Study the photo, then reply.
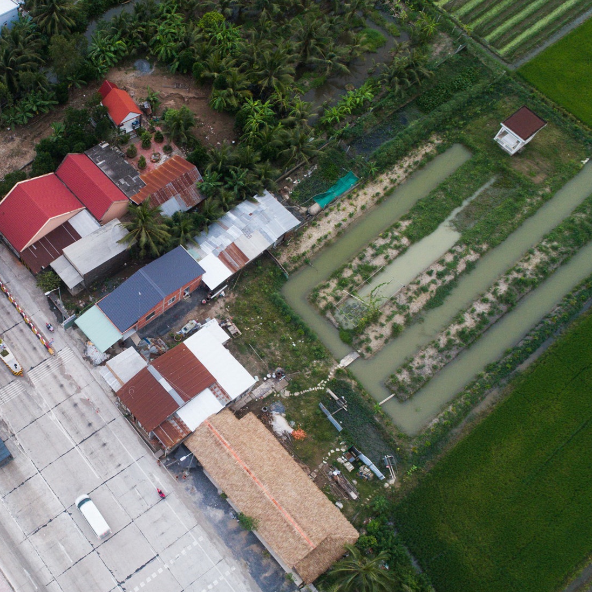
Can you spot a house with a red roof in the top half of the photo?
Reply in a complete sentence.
Yes, the scene does show a house with a red roof in the top half of the photo.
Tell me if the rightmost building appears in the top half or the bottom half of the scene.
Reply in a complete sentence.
Seen from above, the rightmost building lies in the top half of the view.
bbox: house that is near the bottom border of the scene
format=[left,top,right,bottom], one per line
[177,409,361,585]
